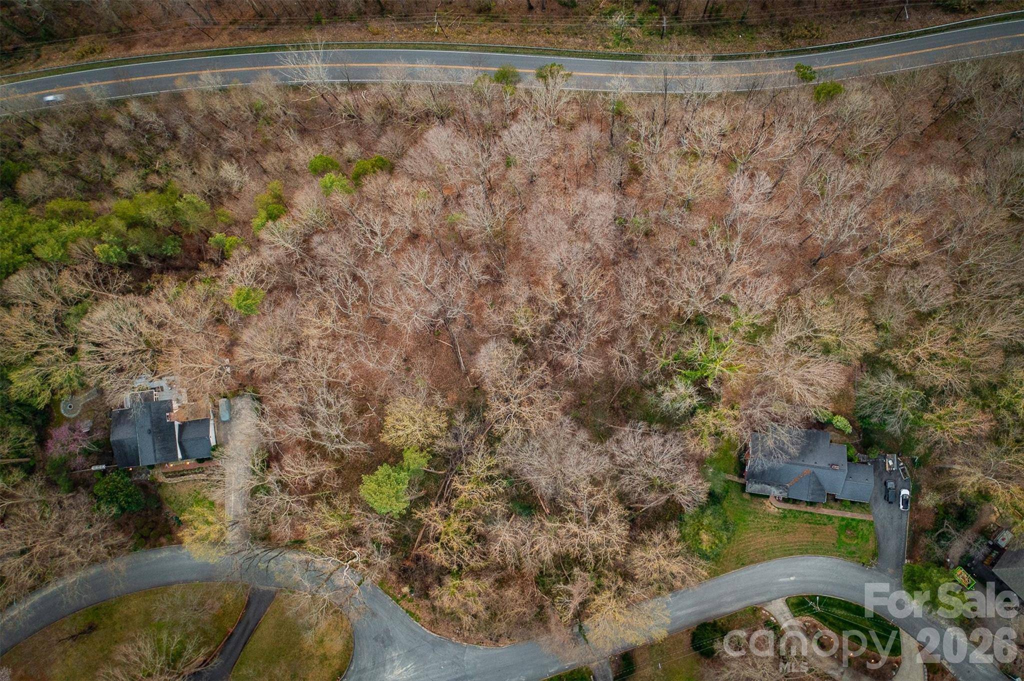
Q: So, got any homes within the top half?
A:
No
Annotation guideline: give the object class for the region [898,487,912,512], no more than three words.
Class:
car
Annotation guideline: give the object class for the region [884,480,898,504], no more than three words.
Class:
car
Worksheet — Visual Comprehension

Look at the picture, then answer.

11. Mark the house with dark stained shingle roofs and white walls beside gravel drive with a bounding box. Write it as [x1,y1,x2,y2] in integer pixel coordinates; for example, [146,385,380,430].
[110,389,217,470]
